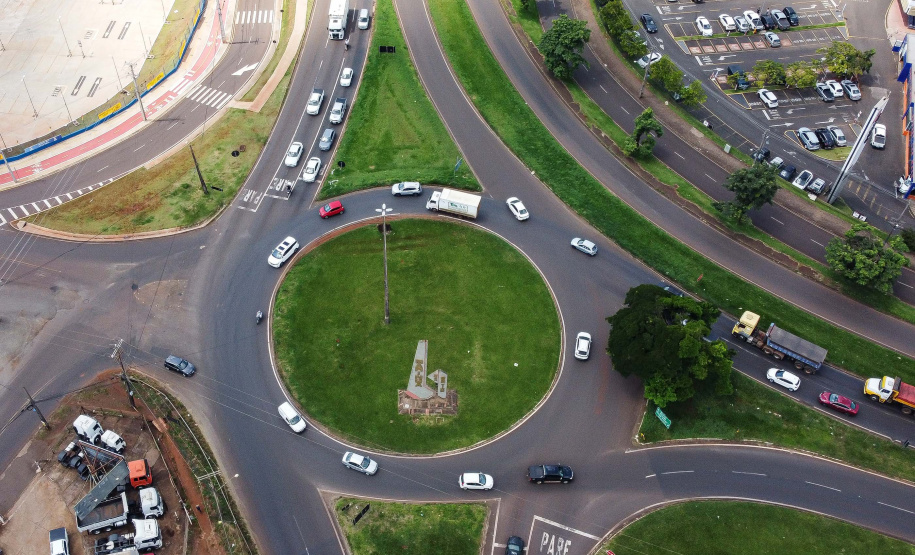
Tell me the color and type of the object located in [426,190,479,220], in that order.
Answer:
white truck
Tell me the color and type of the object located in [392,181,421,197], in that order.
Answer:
white car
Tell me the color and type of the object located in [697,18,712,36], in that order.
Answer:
white car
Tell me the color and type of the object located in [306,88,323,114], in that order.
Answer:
white vehicle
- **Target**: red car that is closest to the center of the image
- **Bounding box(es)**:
[318,200,345,218]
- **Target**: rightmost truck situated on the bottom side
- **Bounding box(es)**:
[860,374,915,415]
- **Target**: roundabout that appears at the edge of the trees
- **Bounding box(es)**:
[197,181,631,517]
